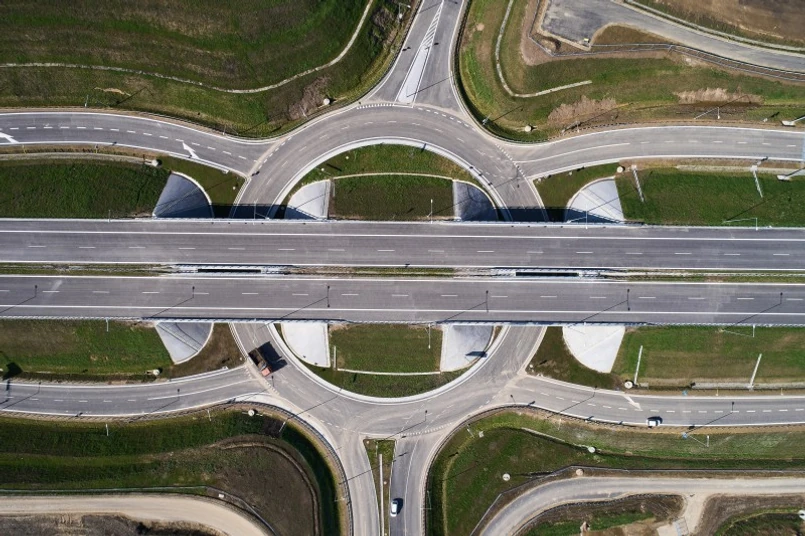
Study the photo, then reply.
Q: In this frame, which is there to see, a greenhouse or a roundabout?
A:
roundabout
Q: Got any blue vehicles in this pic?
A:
No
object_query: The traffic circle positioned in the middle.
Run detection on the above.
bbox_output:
[219,104,559,436]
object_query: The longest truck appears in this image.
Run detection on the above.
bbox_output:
[248,347,274,377]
